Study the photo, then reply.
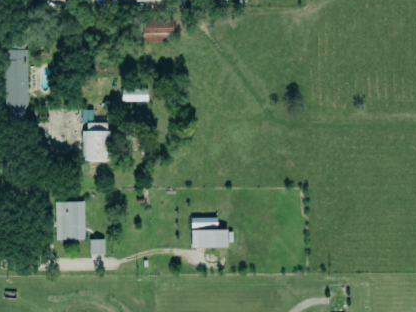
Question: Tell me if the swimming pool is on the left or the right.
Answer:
left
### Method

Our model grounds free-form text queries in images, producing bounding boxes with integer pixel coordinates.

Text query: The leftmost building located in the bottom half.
[56,202,86,240]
